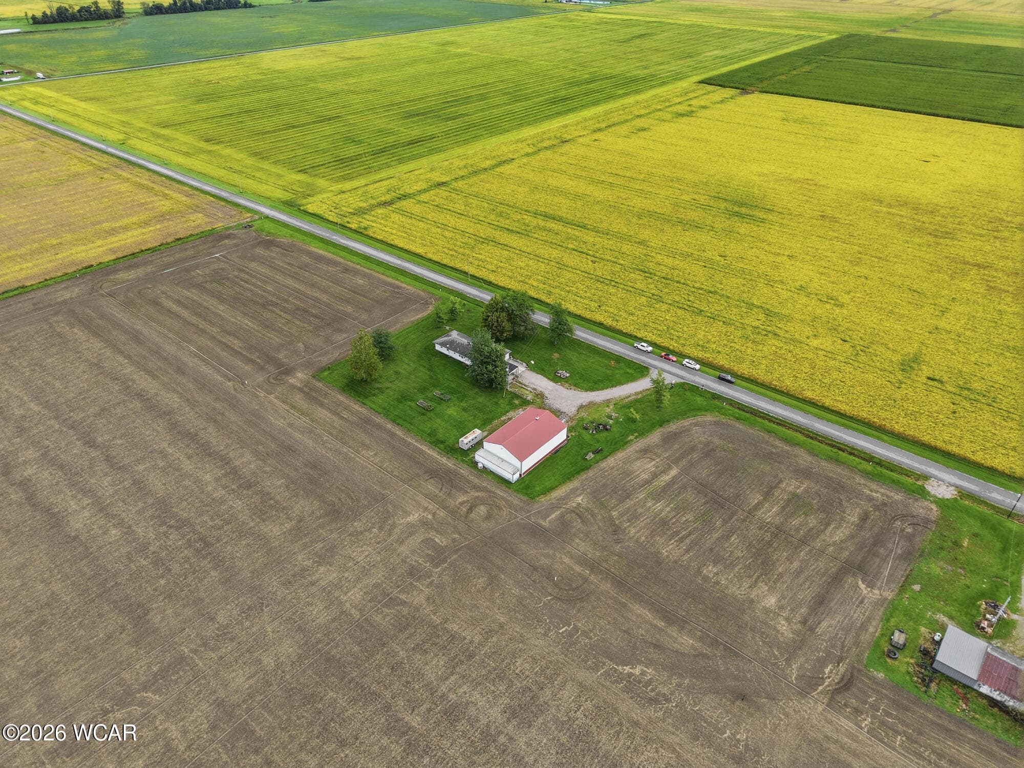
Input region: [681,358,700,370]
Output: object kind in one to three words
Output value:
vehicle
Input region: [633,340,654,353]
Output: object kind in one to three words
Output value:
vehicle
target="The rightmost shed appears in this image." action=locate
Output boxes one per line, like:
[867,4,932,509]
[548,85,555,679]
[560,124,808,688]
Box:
[935,625,1024,724]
